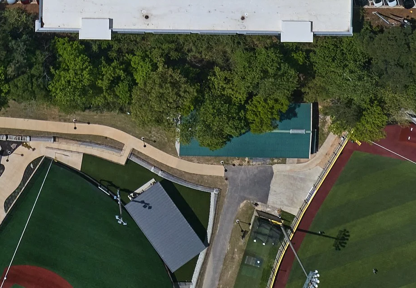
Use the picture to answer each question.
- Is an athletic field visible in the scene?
Yes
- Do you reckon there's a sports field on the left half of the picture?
Yes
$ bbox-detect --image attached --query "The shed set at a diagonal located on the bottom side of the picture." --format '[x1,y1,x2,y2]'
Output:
[123,173,209,273]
